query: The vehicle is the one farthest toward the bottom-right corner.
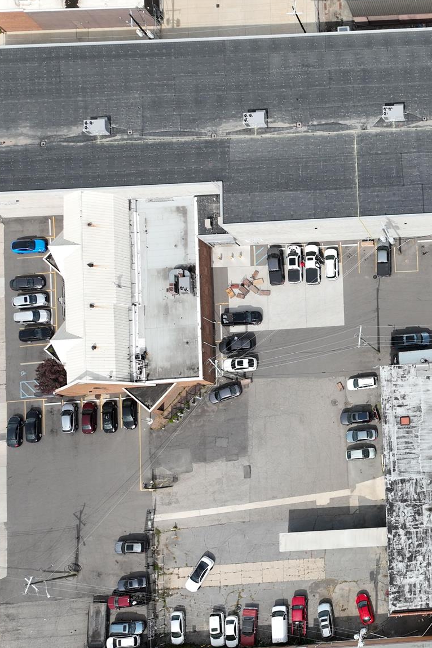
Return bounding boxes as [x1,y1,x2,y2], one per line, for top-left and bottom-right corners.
[356,593,374,625]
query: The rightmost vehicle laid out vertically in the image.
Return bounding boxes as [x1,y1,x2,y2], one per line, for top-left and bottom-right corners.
[374,240,391,278]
